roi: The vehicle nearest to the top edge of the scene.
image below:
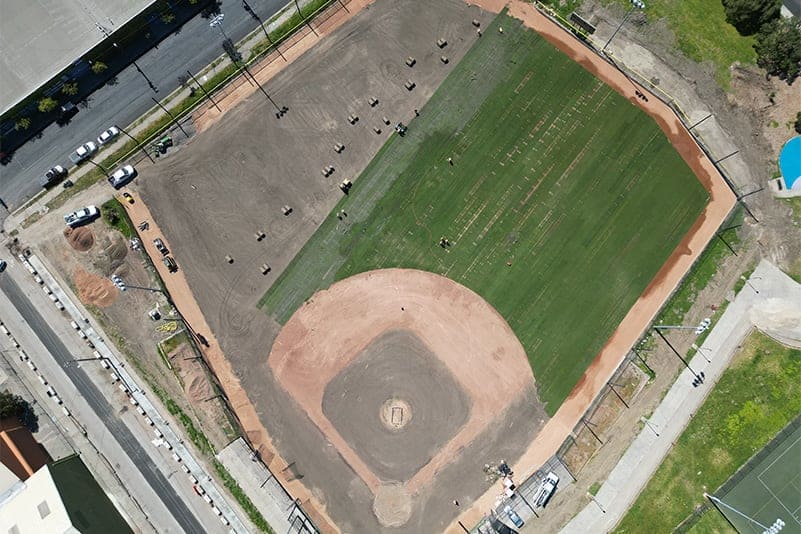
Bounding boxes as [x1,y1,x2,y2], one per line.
[56,99,79,115]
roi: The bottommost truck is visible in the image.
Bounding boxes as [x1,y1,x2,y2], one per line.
[505,505,526,531]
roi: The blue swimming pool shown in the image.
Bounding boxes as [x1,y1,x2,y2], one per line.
[768,135,801,202]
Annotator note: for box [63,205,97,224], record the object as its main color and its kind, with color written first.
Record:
white vehicle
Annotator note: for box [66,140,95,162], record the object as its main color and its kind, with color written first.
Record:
gray truck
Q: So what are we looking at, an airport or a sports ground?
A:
sports ground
